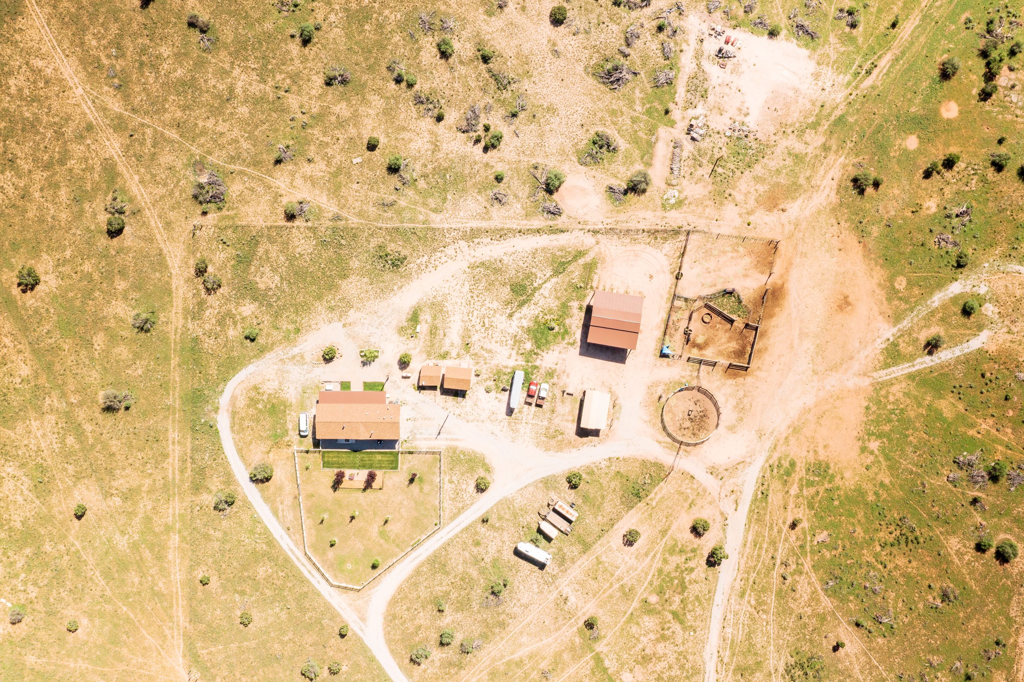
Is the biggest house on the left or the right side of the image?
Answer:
left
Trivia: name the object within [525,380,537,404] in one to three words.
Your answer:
vehicle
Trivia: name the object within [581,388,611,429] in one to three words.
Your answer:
building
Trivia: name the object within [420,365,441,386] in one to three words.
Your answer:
shed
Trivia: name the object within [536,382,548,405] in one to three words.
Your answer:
vehicle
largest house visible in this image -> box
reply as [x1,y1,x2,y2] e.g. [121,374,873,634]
[315,391,400,443]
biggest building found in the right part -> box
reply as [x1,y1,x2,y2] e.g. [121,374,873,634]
[586,291,643,350]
